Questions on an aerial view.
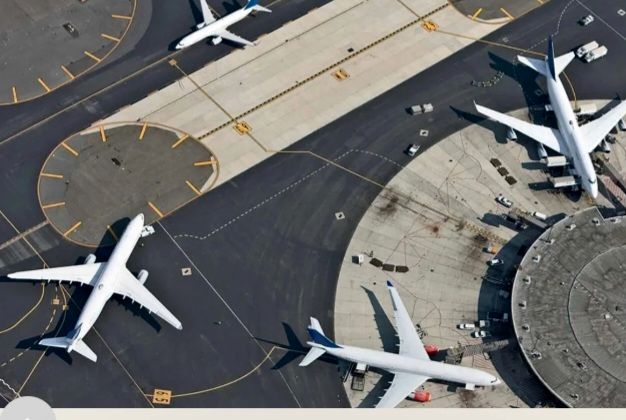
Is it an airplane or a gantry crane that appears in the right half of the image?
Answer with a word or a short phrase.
airplane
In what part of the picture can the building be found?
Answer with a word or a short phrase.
bottom right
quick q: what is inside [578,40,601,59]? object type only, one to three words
vehicle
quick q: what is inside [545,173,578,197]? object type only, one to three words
truck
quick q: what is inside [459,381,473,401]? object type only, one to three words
vehicle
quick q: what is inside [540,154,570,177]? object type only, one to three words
truck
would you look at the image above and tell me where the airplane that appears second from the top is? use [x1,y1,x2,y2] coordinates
[474,34,626,202]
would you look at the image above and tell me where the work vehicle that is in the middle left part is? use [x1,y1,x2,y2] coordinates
[141,225,158,238]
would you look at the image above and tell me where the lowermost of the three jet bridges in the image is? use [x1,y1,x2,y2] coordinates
[452,337,520,367]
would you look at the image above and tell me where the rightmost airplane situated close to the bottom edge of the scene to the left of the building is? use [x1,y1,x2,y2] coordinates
[300,276,499,420]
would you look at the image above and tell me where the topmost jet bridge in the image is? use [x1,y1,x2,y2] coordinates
[587,152,626,197]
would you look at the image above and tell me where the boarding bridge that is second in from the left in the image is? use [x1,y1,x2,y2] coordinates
[517,212,549,237]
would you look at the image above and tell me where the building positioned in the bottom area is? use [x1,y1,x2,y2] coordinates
[509,205,626,420]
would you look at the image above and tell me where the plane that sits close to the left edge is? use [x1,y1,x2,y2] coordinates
[9,213,182,361]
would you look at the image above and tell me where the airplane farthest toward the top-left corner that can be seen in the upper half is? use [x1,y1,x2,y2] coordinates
[175,0,269,49]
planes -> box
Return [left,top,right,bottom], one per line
[175,0,269,49]
[300,276,499,420]
[474,34,626,202]
[9,213,182,361]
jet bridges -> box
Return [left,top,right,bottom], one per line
[517,212,549,237]
[587,152,626,197]
[452,337,520,367]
